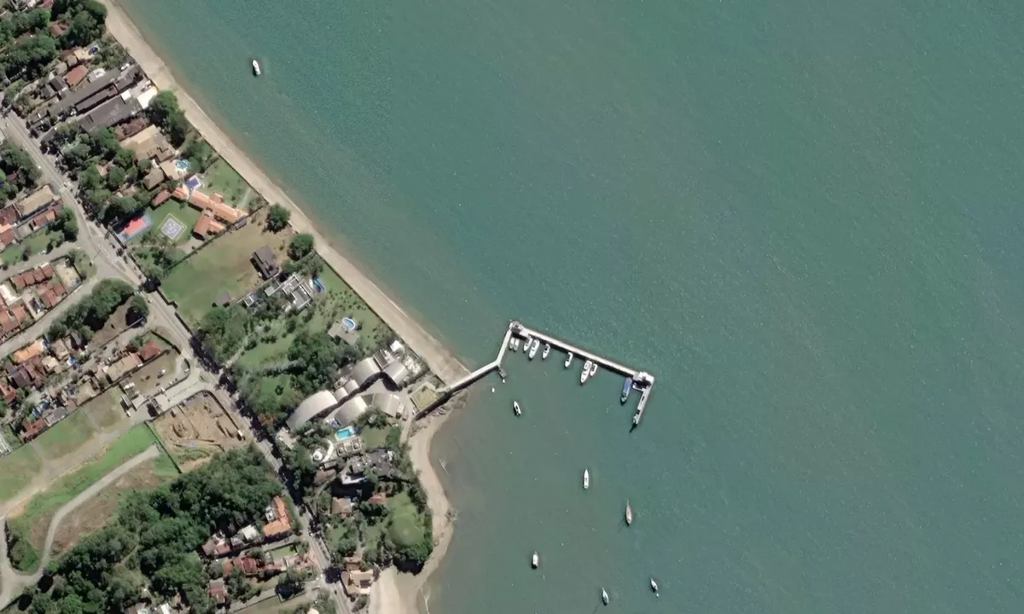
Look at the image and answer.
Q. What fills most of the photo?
water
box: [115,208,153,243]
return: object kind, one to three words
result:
sports court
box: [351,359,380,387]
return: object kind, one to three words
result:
hangar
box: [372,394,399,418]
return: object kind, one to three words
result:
shed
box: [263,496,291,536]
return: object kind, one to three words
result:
house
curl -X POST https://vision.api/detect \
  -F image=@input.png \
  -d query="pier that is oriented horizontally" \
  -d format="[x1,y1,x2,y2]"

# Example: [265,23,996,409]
[445,320,654,424]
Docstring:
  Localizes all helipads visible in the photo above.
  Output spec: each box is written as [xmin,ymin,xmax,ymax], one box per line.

[156,213,187,241]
